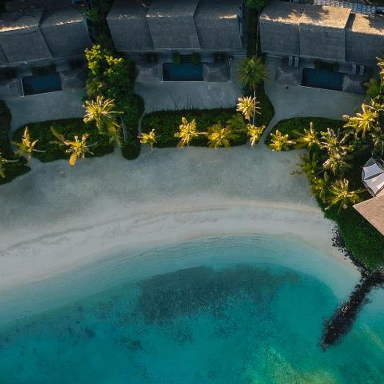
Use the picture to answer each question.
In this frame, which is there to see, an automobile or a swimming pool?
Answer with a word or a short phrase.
swimming pool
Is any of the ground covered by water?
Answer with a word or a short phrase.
Yes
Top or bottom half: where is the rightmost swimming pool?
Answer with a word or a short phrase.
top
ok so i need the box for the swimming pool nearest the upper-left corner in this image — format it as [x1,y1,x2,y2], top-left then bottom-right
[22,71,62,96]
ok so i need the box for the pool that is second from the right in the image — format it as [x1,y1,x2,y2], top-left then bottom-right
[162,62,203,81]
